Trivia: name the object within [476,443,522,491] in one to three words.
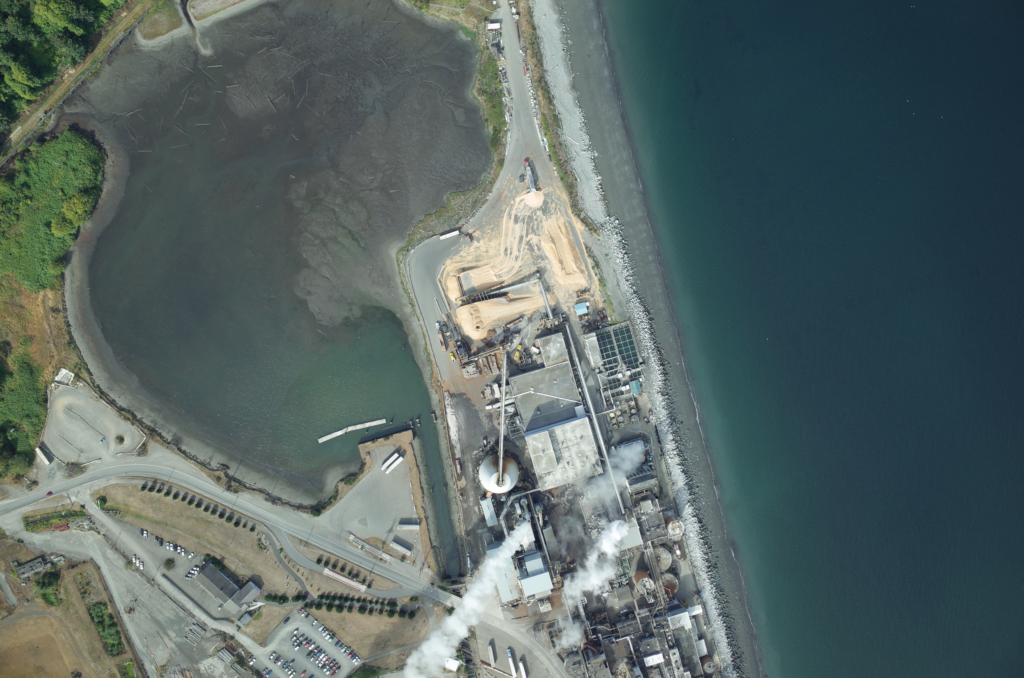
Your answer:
silo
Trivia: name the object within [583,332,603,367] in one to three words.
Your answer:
house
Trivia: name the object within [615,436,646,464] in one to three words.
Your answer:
cooling tower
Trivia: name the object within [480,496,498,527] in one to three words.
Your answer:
shed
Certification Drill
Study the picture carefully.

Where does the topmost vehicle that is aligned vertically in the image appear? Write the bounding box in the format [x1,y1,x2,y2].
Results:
[524,155,538,191]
